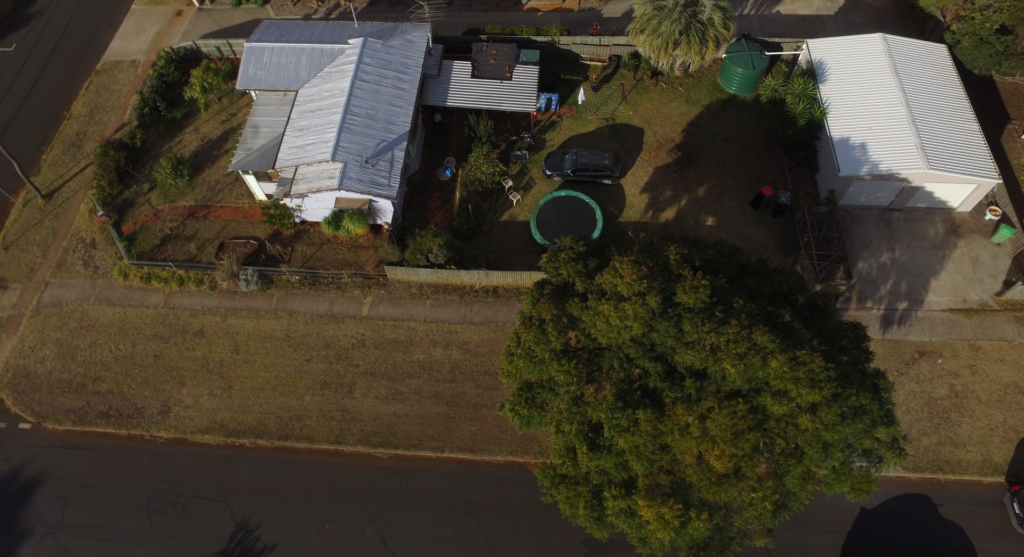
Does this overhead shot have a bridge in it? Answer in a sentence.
No, there appears to be no bridge in this shot.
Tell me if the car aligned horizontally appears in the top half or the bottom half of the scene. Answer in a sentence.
Seen from above, the car aligned horizontally lies in the top half of the view.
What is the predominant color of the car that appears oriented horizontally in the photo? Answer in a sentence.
The car that appears oriented horizontally is black.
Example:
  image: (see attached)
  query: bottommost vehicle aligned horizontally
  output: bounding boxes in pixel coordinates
[542,147,624,189]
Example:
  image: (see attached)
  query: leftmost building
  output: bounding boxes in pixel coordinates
[227,13,432,227]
